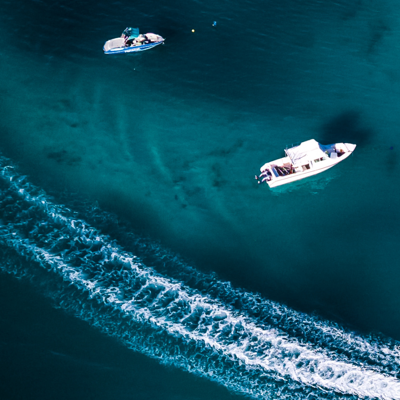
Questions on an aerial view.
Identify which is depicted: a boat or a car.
boat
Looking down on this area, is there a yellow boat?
No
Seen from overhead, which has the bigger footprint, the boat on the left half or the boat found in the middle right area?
the boat found in the middle right area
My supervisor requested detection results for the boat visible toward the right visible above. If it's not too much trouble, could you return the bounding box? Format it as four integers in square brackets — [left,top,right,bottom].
[250,144,358,192]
